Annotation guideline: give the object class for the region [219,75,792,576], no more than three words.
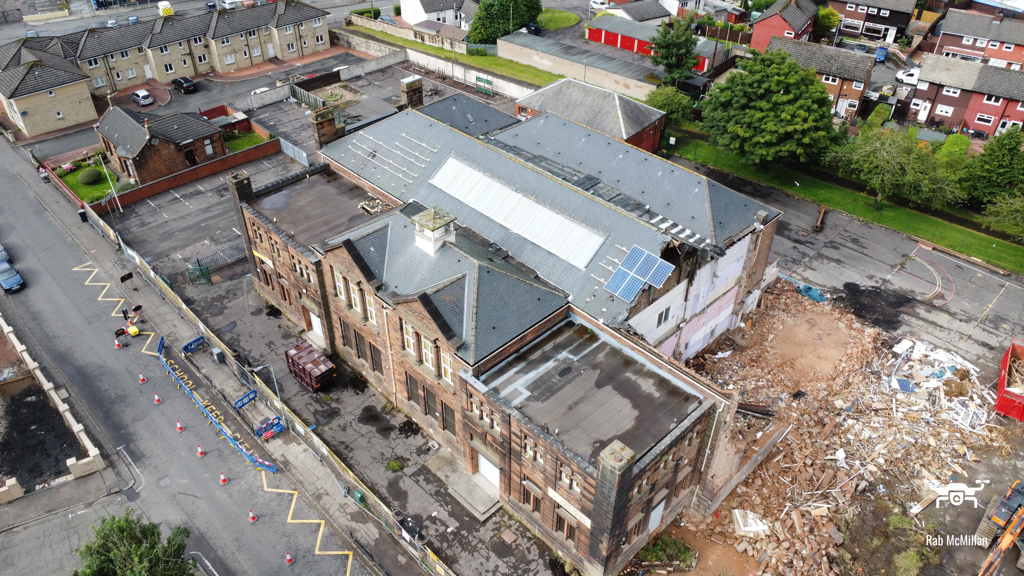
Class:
building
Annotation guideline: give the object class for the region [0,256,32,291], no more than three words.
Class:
car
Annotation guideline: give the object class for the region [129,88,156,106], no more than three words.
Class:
car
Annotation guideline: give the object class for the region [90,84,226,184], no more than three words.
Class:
house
